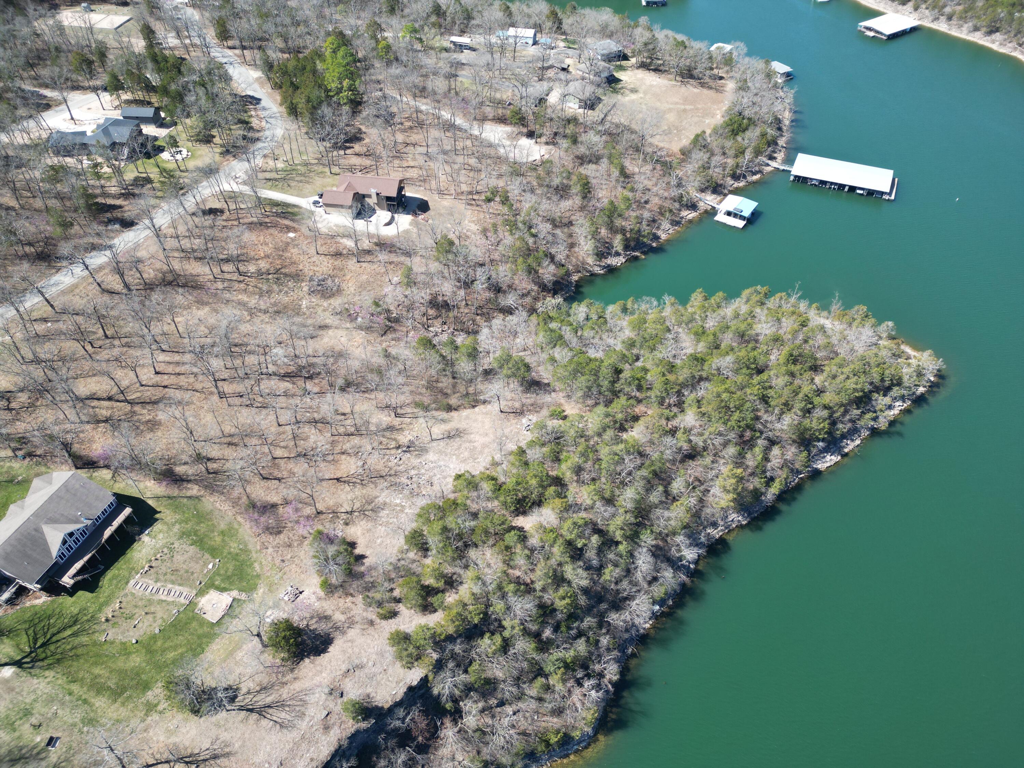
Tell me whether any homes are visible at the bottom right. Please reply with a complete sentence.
No, no home appears at the bottom right.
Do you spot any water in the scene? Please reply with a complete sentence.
Yes, there is water in the image.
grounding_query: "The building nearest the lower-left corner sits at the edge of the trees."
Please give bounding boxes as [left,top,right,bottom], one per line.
[0,469,141,602]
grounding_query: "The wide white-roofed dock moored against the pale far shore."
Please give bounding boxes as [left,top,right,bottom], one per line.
[855,13,919,41]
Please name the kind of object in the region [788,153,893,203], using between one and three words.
pier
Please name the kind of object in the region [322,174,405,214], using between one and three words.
house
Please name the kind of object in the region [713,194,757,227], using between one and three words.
pier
